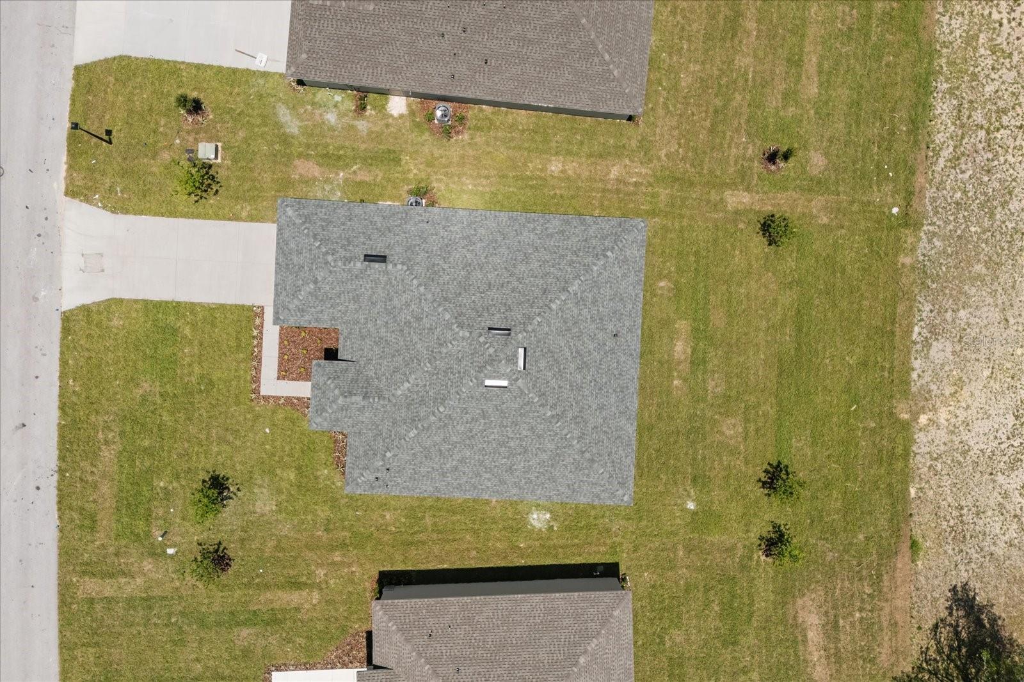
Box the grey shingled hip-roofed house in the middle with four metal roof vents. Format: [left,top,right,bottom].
[272,197,649,507]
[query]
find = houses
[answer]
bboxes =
[355,578,633,682]
[272,197,649,507]
[285,0,654,121]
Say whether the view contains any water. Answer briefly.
No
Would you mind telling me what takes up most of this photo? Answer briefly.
grass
